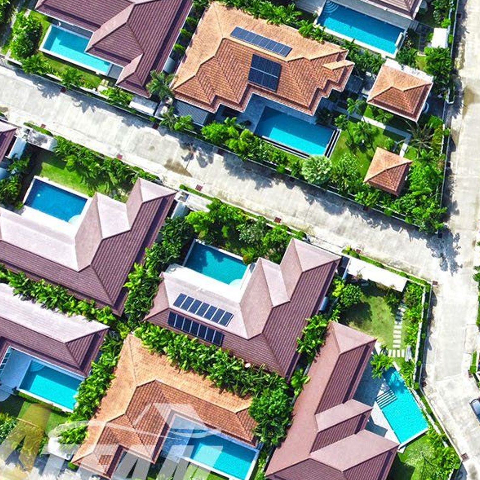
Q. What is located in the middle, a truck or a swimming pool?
swimming pool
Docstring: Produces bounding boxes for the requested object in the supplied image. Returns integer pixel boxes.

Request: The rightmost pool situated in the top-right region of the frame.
[313,0,410,59]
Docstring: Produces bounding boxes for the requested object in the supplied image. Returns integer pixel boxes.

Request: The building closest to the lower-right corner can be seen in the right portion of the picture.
[265,320,401,480]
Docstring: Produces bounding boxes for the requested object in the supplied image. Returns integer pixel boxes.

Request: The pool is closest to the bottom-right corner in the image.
[377,363,426,447]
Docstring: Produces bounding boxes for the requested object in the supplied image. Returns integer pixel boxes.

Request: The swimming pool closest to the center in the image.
[180,238,253,288]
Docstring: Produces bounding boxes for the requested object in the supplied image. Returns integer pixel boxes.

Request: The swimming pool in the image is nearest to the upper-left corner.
[38,21,115,79]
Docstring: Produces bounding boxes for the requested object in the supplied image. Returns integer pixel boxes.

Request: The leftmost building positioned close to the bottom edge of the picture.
[72,330,276,480]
